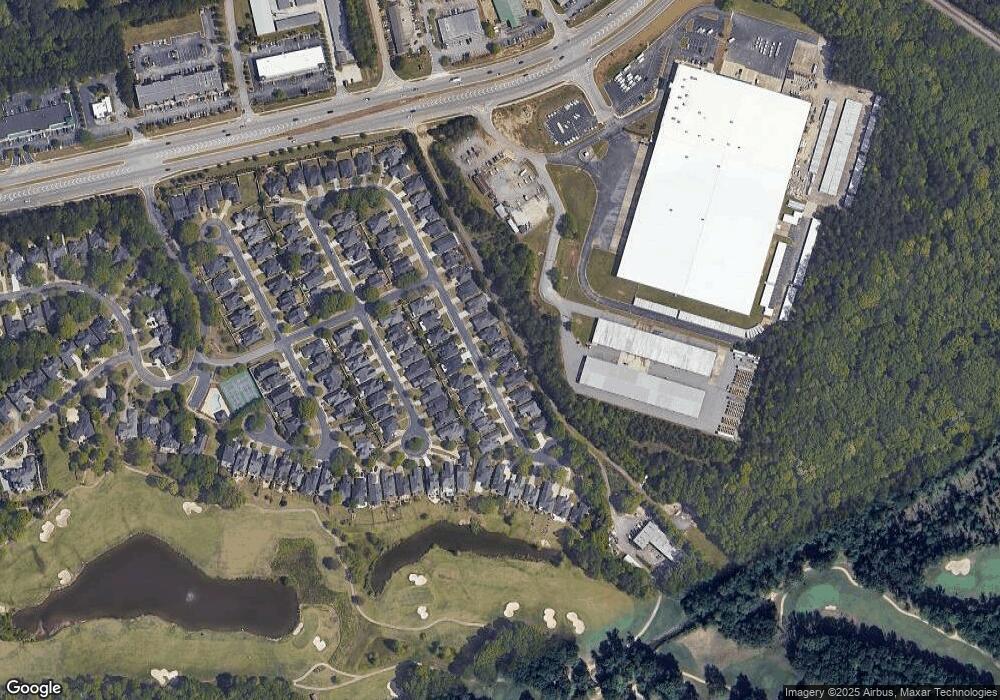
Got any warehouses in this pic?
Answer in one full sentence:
Yes, the photo shows a warehouse.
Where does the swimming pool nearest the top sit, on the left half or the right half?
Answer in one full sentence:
The swimming pool nearest the top appears in the left half of the scene.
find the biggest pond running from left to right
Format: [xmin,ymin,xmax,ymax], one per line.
[12,533,299,639]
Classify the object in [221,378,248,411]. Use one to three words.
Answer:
tennis court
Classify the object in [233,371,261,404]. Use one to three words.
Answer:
tennis court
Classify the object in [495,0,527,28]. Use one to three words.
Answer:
building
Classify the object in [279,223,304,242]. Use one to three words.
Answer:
house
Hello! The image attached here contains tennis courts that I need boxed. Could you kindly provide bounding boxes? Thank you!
[221,378,248,411]
[233,371,261,404]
